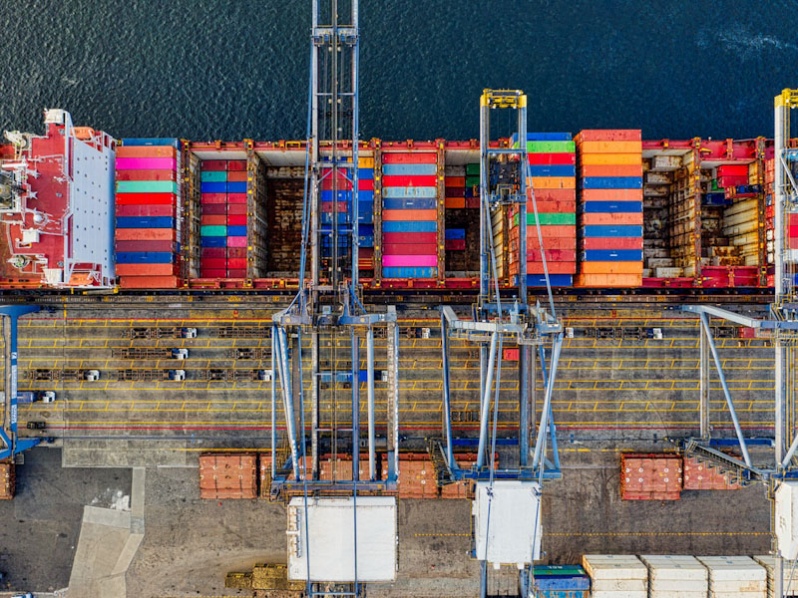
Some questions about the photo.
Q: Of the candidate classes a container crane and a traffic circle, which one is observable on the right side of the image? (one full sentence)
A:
It is a container crane that can be seen on the right side of the image.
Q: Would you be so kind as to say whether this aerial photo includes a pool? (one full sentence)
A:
No, there's no pool here.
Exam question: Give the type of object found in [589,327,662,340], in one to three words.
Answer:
vehicle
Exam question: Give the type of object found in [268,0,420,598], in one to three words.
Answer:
container crane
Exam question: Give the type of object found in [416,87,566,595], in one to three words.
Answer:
container crane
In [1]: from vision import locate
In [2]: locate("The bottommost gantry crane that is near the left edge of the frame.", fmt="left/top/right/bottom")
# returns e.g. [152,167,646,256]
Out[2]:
[0,306,75,464]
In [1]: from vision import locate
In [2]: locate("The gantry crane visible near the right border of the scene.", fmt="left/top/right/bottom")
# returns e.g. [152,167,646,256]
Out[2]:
[652,87,798,598]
